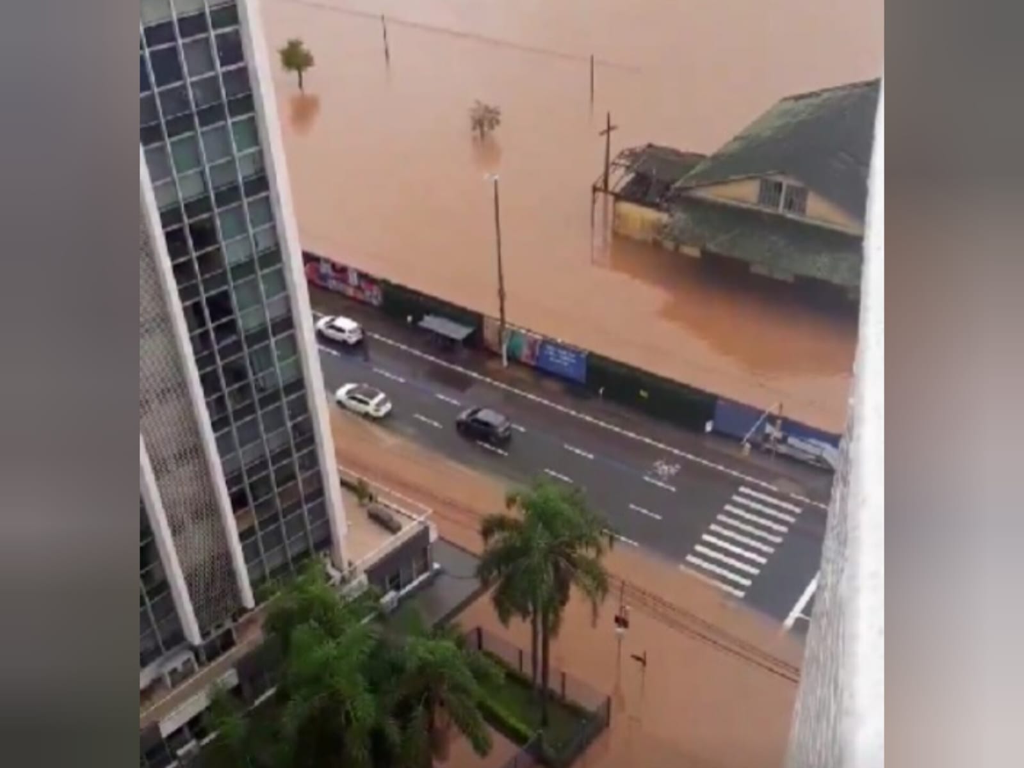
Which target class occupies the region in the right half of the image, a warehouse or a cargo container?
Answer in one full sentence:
Visible in the right half of the image is a warehouse.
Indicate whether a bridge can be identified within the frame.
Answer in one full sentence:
No, no bridge can be seen from above.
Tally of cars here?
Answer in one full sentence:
Looking from above, you can make out 3 cars.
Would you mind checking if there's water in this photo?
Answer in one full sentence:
Yes, some water is visible.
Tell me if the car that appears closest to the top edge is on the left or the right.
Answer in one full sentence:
The car that appears closest to the top edge sits on the left side.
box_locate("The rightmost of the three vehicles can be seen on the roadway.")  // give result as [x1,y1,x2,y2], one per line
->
[458,406,519,442]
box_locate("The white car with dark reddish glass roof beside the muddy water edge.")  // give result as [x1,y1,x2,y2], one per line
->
[336,384,393,419]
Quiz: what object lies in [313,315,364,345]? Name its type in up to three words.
car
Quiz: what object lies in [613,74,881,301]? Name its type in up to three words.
warehouse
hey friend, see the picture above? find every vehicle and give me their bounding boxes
[313,315,364,345]
[336,384,393,419]
[458,406,519,442]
